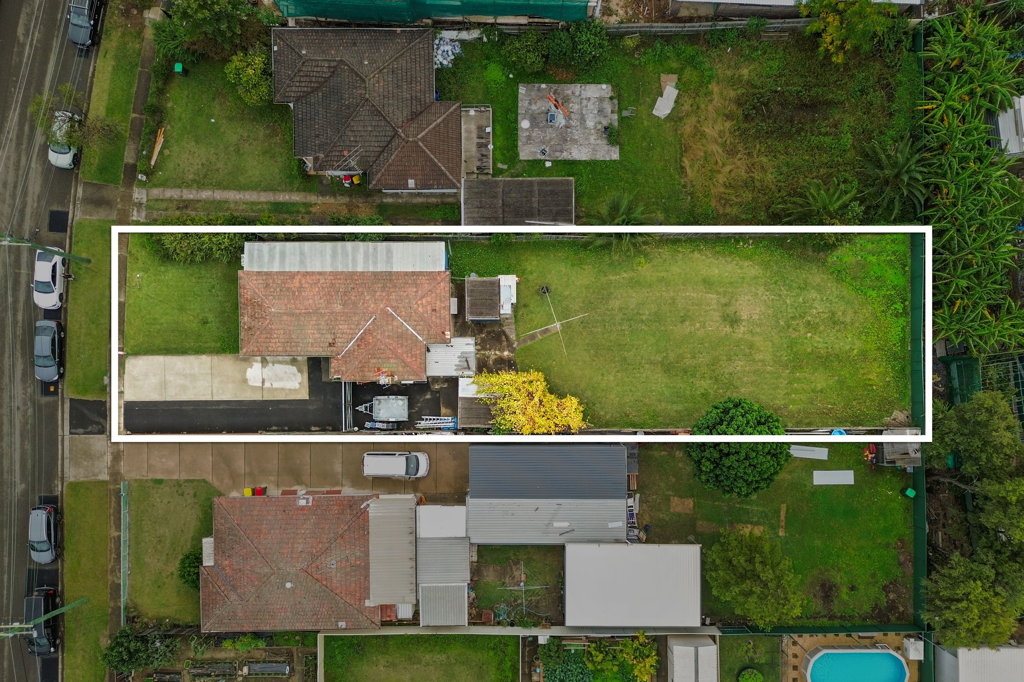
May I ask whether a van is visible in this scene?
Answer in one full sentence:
Yes, a van is visible in the scene.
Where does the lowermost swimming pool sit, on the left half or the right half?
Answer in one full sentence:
The lowermost swimming pool sits on the right side.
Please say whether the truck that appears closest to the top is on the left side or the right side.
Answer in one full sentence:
The truck that appears closest to the top is on the left side of the image.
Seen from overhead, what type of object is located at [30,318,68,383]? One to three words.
car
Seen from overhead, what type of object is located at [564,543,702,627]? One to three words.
shed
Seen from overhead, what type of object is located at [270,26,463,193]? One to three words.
house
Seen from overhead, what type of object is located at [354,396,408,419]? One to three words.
trailer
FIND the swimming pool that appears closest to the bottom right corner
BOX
[791,634,911,682]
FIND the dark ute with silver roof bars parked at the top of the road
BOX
[59,0,101,51]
